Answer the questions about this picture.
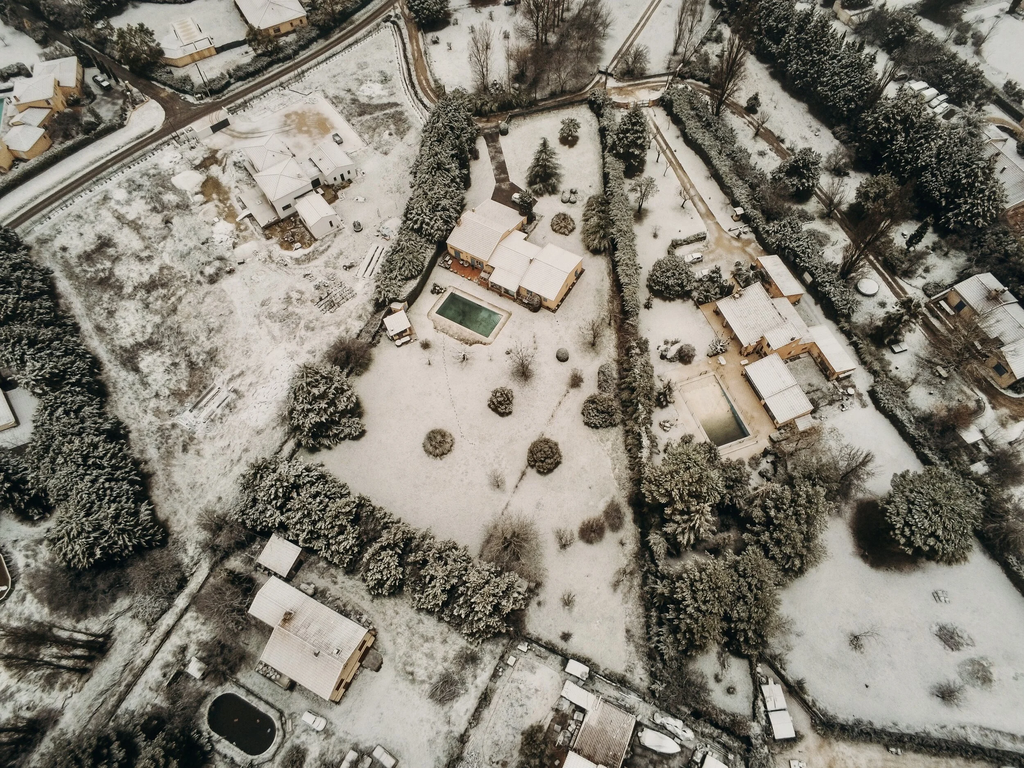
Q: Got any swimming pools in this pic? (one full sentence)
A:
Yes, the photo shows a swimming pool.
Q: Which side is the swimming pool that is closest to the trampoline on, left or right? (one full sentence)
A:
It is on the right.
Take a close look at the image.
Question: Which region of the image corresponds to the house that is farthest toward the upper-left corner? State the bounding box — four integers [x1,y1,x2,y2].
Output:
[0,56,86,175]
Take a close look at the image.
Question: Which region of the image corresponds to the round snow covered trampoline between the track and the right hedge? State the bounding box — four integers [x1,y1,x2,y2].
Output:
[856,278,880,295]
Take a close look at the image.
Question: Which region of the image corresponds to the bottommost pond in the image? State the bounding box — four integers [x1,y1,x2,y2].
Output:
[206,690,276,760]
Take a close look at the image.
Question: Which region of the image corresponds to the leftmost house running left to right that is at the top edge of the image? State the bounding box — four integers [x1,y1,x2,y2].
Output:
[160,37,217,69]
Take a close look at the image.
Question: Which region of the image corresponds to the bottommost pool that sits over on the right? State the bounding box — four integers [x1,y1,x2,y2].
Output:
[675,369,756,450]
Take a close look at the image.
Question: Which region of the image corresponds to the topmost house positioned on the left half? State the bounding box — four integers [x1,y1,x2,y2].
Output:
[236,0,307,36]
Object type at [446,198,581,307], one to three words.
house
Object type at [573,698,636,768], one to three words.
barn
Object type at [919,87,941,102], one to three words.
vehicle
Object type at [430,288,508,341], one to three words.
swimming pool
